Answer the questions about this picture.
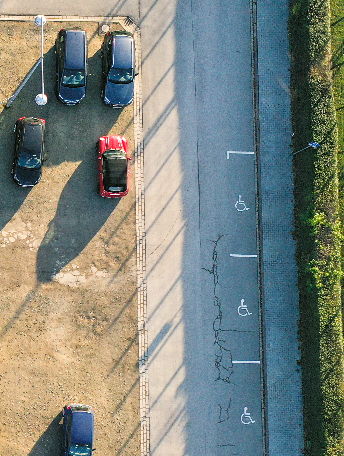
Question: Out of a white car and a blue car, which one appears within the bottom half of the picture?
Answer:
blue car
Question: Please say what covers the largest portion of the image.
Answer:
paved ground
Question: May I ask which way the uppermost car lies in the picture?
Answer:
up and down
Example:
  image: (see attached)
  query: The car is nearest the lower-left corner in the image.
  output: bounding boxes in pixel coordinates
[62,401,96,456]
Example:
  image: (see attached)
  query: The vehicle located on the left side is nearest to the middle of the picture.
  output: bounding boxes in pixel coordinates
[96,134,134,200]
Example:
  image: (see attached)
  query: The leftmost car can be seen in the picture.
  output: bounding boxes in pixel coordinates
[10,115,48,188]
